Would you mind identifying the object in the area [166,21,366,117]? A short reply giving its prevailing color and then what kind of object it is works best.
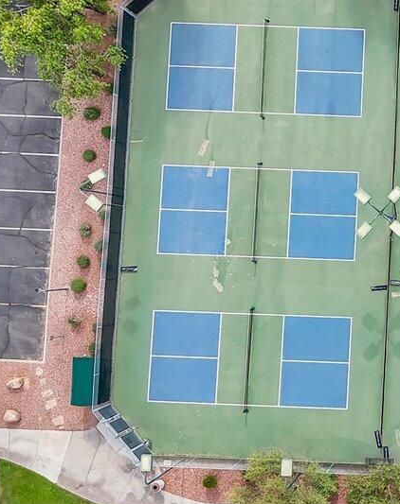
blue sports court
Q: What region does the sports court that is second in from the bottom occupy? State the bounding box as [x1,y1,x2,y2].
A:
[157,164,359,262]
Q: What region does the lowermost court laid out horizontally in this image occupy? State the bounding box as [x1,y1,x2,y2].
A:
[148,310,352,411]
